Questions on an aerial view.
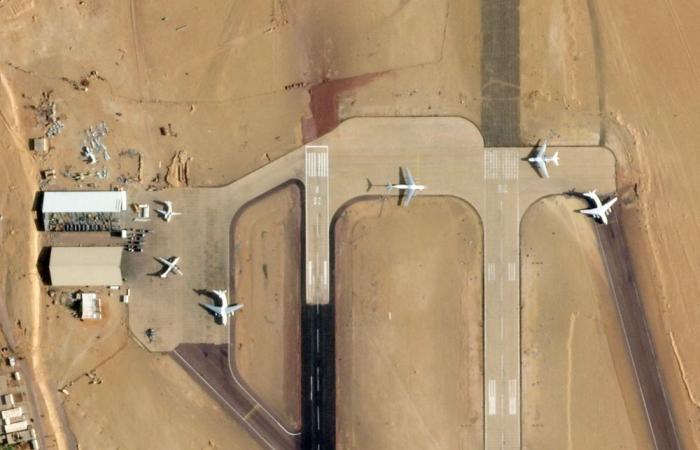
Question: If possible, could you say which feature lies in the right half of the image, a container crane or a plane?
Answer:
plane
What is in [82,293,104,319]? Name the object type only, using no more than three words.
building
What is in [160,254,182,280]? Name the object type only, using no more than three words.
airplane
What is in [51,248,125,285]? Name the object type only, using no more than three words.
hangar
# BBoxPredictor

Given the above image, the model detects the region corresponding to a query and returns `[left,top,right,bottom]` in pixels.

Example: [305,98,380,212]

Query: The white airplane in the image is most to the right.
[579,189,615,224]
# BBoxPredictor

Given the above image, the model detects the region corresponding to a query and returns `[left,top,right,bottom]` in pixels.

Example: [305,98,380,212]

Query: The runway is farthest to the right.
[482,0,522,450]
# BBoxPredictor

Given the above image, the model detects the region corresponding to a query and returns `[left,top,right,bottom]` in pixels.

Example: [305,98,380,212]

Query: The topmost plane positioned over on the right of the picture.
[528,140,558,178]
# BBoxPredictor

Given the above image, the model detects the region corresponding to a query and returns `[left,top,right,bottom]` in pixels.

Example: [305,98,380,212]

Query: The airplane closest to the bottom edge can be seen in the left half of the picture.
[204,291,244,326]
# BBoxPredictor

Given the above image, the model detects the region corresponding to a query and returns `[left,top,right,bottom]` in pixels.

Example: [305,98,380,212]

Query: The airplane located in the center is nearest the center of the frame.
[388,167,426,207]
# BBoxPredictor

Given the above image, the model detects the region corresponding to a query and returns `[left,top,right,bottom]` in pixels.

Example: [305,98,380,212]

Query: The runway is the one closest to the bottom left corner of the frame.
[300,146,336,450]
